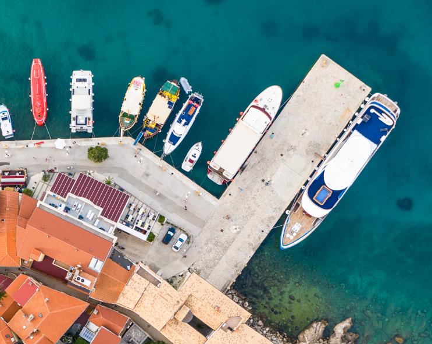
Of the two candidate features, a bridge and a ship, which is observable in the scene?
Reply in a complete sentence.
It is a ship that can be seen here.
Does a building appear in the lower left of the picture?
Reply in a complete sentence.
Yes, a building can be seen in the lower left of the picture.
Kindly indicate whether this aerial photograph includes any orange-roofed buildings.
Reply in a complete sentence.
Yes, there's an orange-roofed building down there.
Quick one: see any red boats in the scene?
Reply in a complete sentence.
Yes, a red boat is visible in the scene.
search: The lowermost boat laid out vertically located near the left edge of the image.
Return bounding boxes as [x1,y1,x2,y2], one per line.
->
[0,104,15,140]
